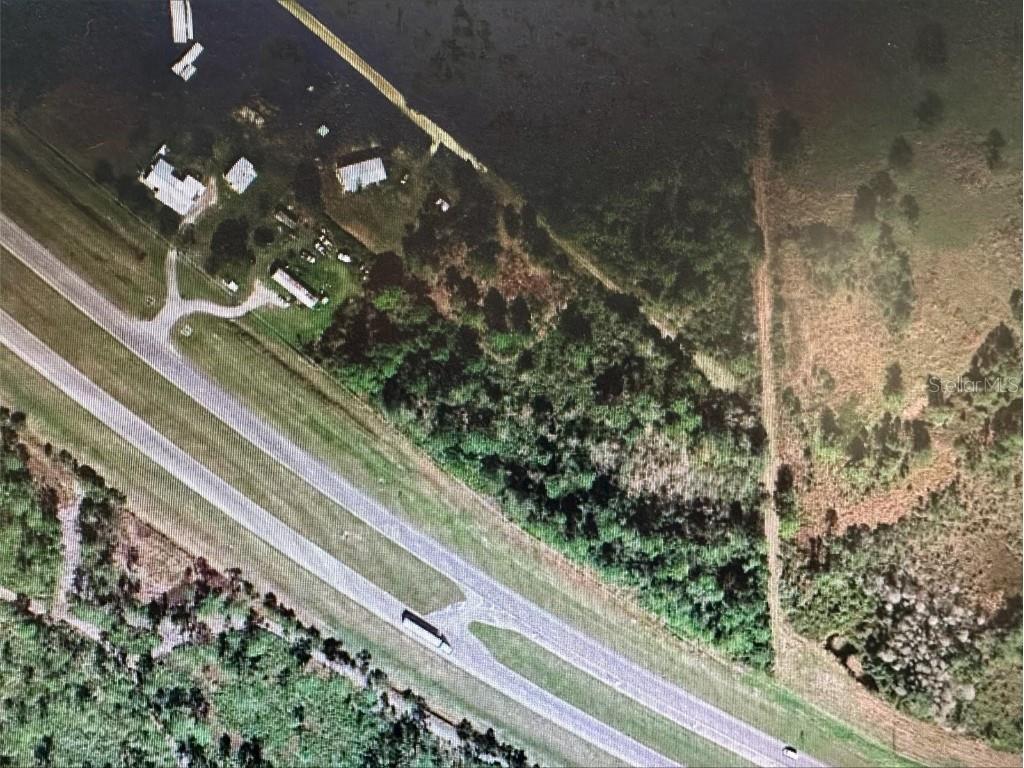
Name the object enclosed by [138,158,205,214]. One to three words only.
house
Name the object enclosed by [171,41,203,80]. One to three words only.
shed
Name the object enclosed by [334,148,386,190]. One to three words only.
barn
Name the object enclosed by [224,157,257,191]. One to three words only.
building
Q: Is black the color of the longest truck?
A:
No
